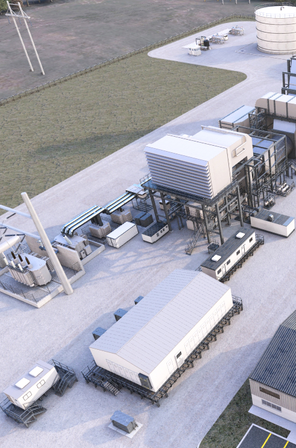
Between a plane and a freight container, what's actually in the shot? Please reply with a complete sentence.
Looking from above, you can make out a freight container.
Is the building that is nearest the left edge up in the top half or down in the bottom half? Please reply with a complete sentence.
You can find the building that is nearest the left edge in the bottom half.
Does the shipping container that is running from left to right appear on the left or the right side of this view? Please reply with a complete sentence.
The shipping container that is running from left to right appears in the right half of the scene.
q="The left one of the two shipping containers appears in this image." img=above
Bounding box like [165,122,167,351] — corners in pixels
[106,221,138,248]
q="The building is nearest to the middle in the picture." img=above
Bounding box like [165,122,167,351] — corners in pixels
[141,221,168,244]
